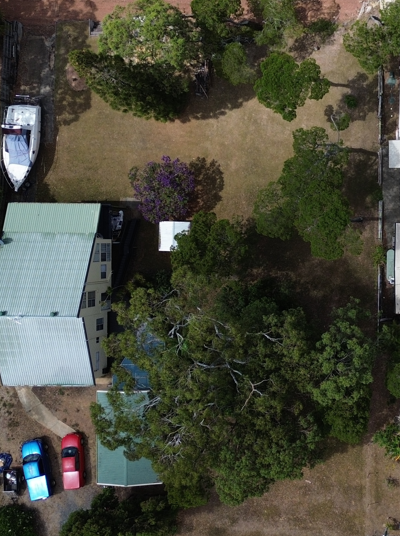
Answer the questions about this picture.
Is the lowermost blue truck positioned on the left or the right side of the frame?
left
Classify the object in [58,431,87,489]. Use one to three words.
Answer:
truck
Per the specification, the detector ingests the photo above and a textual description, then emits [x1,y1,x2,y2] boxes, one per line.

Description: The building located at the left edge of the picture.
[0,202,113,387]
